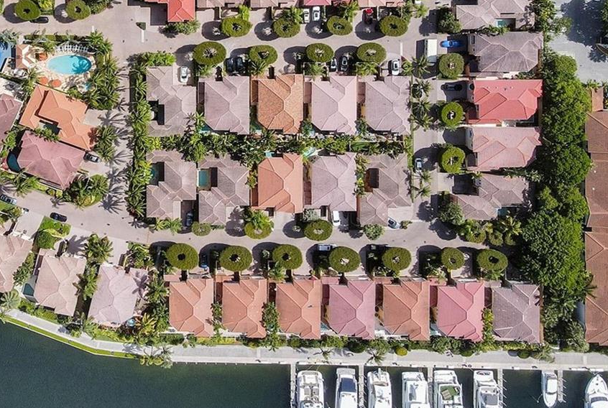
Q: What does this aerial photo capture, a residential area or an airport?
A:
residential area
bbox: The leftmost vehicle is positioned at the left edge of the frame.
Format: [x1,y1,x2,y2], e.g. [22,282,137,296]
[0,193,18,207]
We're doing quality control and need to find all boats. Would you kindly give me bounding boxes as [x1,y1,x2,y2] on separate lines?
[581,371,608,408]
[433,368,466,408]
[366,366,391,408]
[335,366,359,408]
[472,369,499,408]
[402,366,433,408]
[298,364,324,408]
[537,370,559,408]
